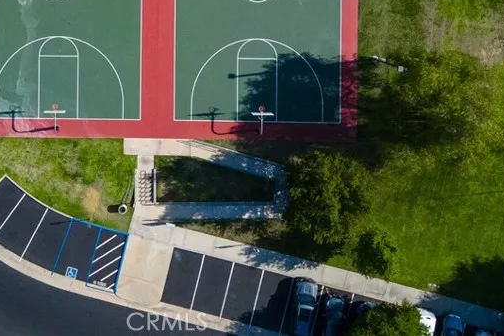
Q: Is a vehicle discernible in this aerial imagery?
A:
Yes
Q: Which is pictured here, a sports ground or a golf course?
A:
sports ground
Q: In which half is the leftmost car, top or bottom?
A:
bottom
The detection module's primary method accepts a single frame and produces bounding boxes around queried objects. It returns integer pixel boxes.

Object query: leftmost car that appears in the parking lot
[288,279,319,335]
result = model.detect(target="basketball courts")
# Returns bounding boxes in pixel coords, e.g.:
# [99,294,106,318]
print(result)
[0,0,159,139]
[158,0,358,142]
